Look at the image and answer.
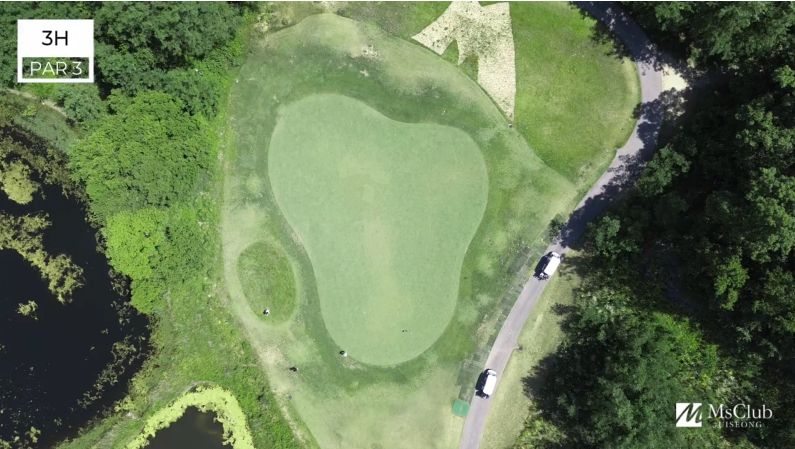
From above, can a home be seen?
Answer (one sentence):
No, this view has no home in it.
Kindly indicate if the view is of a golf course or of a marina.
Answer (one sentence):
The area seen from above is a golf course.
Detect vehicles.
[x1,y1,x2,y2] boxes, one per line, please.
[537,252,559,278]
[479,368,496,395]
